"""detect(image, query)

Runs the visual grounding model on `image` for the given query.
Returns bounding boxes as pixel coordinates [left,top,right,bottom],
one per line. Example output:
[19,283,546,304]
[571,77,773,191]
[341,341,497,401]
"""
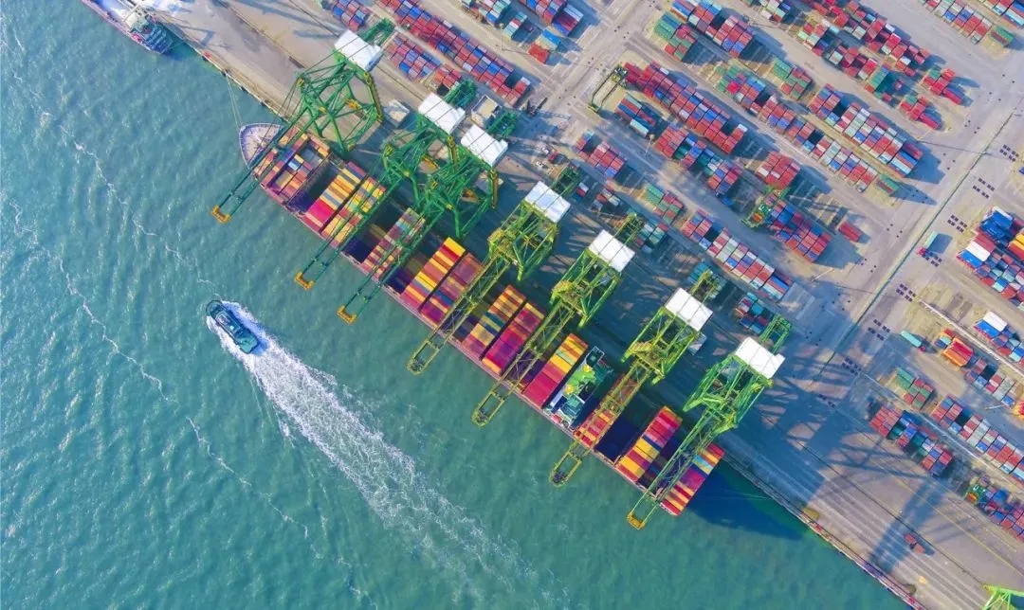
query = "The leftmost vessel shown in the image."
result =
[82,0,176,57]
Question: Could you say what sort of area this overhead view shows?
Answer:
port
